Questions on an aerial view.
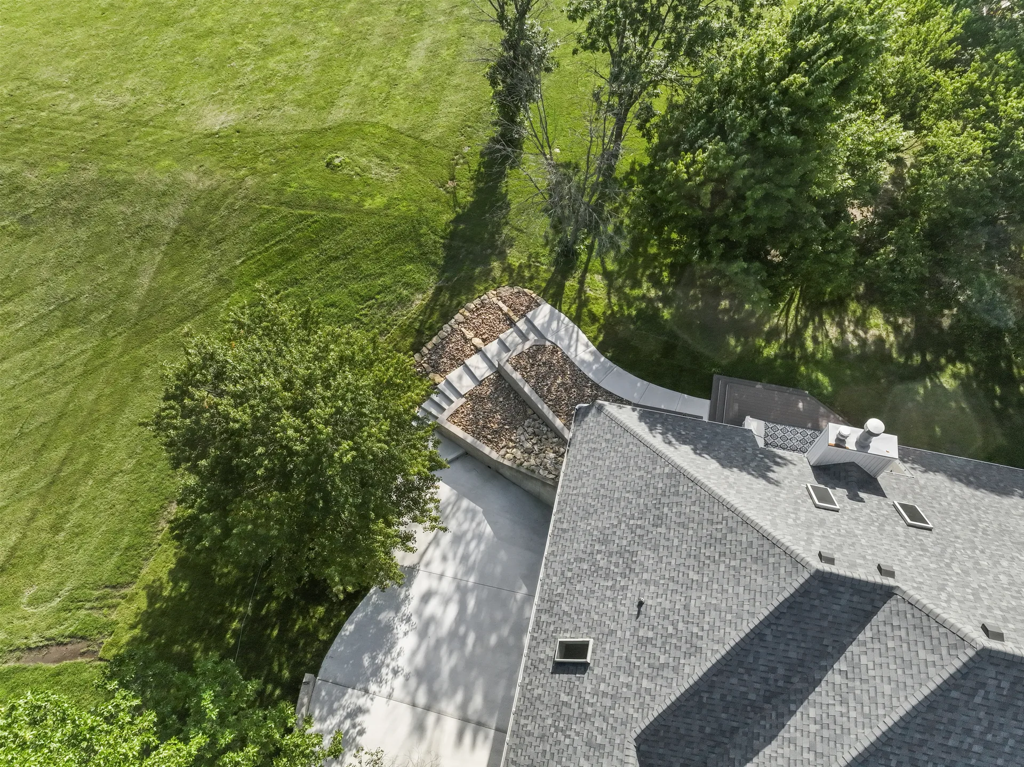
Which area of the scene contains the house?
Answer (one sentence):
The house sits in the bottom right section of the image.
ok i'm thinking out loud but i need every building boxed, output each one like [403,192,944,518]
[500,398,1024,767]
